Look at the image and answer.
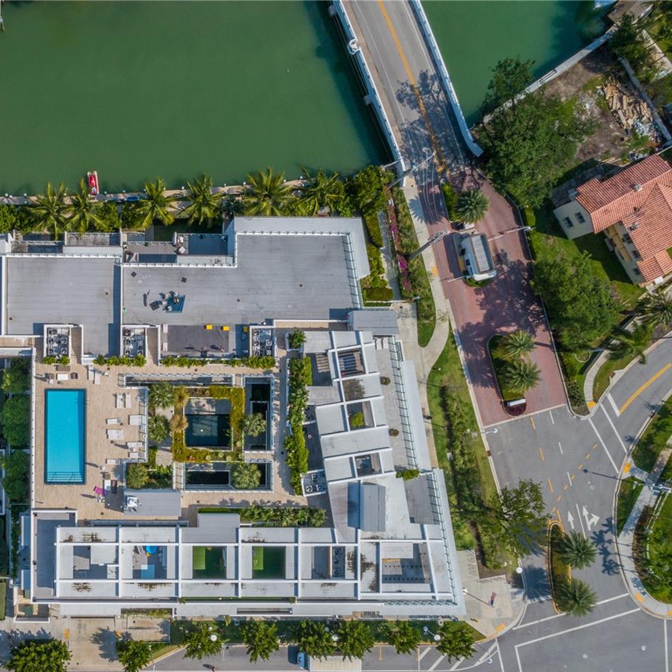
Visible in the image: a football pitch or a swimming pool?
swimming pool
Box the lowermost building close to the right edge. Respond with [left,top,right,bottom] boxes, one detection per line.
[558,154,672,287]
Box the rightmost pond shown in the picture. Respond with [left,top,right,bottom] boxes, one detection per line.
[185,414,232,450]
